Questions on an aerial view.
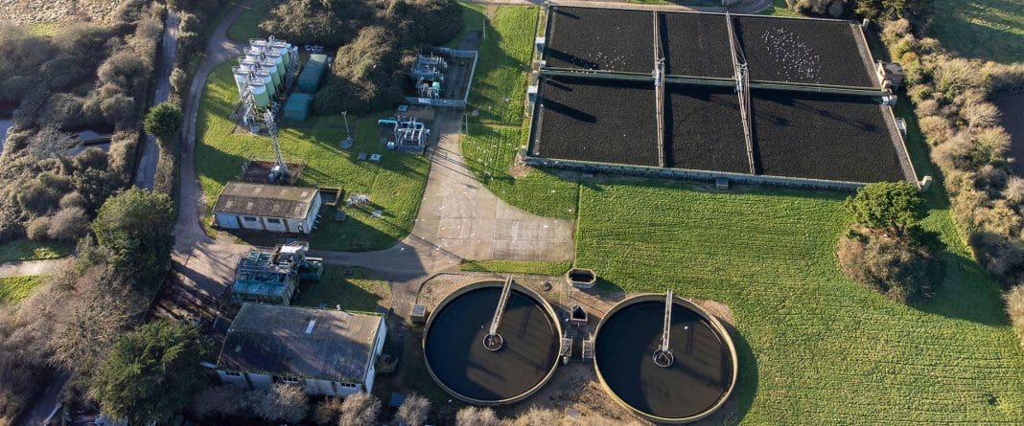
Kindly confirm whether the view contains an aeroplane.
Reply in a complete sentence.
No, I find no aeroplane anywhere in the image.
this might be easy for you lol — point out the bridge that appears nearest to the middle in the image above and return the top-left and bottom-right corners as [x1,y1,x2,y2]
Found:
[489,275,514,338]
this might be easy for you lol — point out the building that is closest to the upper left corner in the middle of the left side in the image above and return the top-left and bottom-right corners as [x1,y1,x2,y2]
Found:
[210,181,321,235]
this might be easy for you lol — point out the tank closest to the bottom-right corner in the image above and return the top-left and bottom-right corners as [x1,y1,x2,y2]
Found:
[593,287,739,426]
